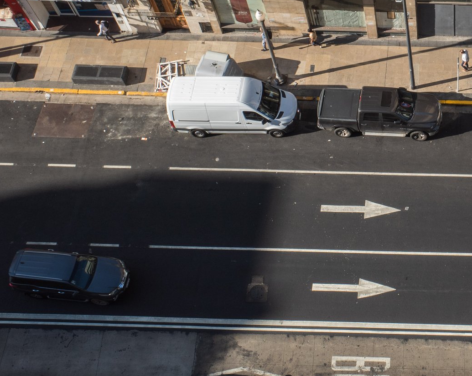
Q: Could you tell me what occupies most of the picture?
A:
paved ground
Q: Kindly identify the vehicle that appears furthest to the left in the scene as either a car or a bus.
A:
car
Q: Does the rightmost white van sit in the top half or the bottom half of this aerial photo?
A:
top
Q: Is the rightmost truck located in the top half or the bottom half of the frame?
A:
top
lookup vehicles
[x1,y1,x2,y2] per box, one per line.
[163,76,302,137]
[317,82,444,138]
[4,251,134,307]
